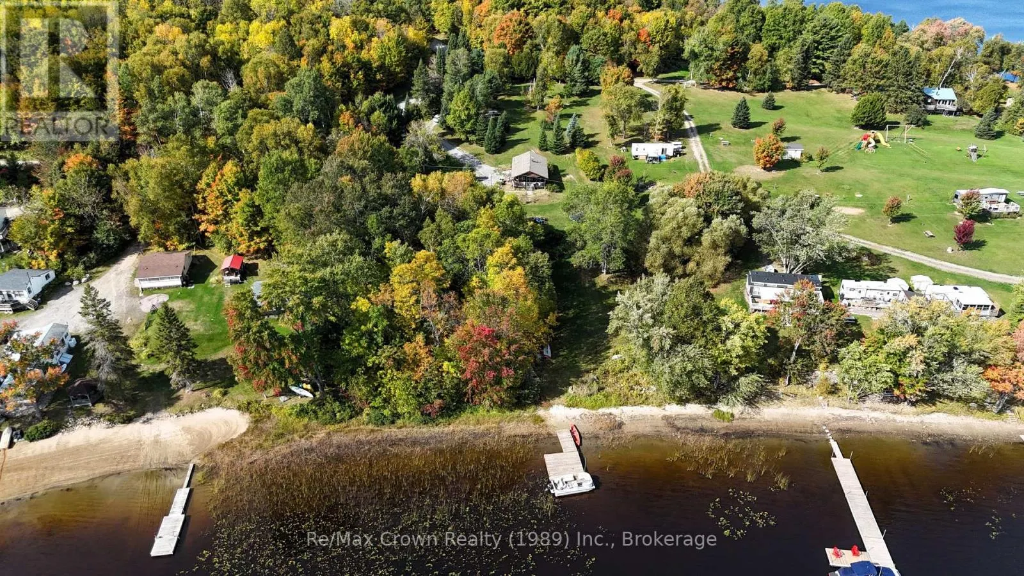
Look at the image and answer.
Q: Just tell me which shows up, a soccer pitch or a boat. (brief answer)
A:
boat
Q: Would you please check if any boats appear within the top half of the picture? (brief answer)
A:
No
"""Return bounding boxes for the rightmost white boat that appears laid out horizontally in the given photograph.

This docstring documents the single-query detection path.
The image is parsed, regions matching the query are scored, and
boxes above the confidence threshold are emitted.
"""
[545,470,598,497]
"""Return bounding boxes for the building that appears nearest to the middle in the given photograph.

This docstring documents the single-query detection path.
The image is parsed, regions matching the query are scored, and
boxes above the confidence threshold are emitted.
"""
[511,153,550,190]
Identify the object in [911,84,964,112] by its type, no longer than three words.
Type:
house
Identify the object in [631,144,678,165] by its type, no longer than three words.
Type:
trailer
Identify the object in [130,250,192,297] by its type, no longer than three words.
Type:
building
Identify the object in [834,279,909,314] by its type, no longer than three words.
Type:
trailer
